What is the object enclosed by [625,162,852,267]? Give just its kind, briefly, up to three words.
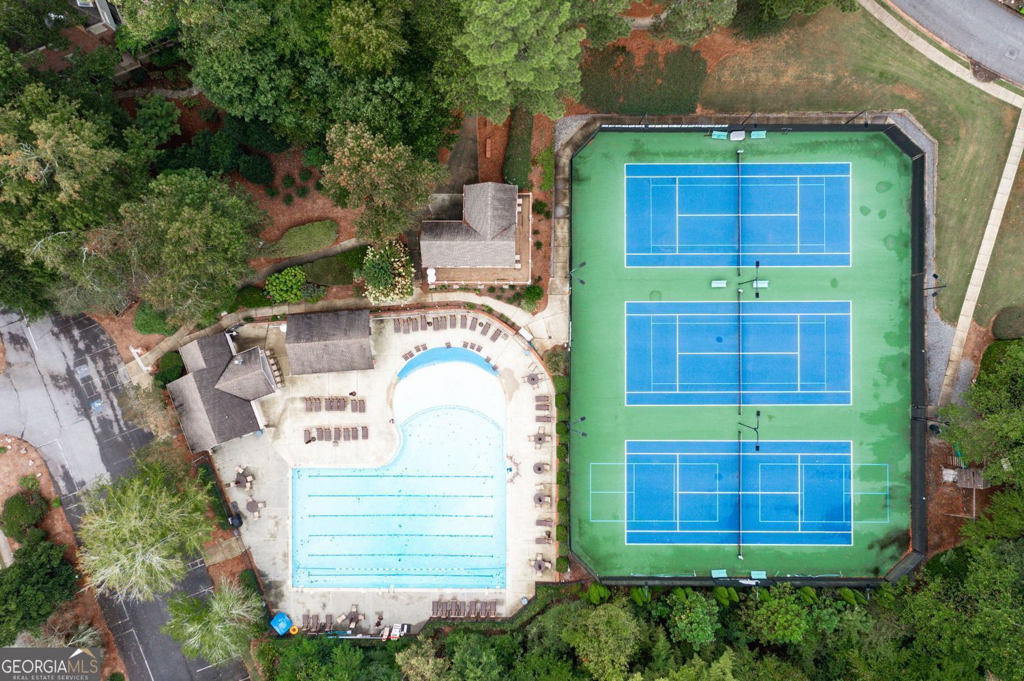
tennis court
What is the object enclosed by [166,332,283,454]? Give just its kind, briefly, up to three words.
building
